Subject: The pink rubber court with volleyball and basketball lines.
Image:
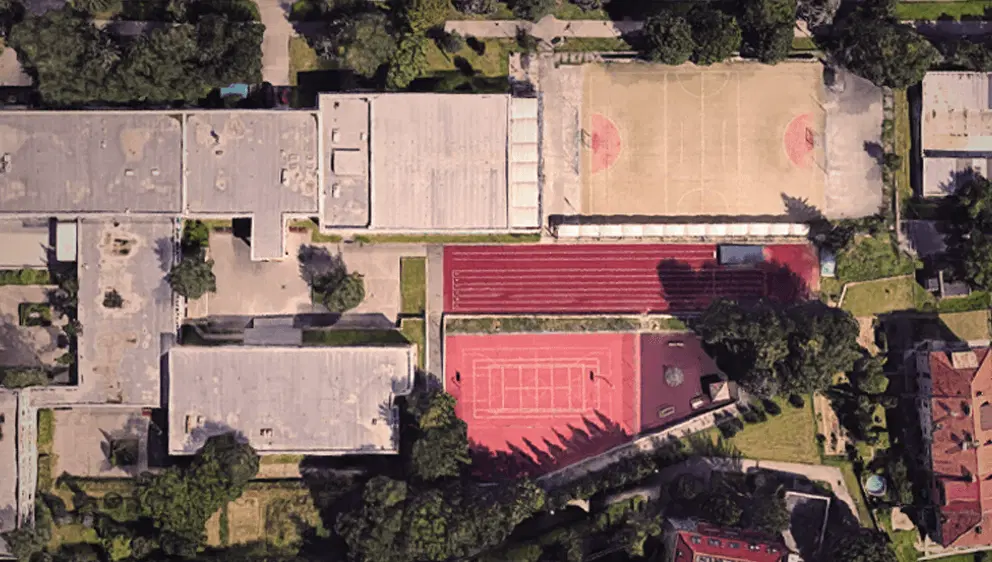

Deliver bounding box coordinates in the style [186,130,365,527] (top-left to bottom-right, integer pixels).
[446,333,637,484]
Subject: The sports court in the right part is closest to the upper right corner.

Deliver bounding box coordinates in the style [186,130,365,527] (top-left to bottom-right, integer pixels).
[581,61,826,218]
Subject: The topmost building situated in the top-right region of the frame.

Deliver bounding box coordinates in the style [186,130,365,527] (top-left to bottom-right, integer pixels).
[914,71,992,153]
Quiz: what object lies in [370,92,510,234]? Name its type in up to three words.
building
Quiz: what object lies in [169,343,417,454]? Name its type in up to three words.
building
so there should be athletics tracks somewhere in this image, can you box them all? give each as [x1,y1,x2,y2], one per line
[444,245,820,311]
